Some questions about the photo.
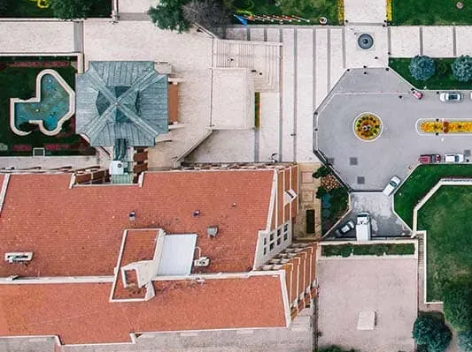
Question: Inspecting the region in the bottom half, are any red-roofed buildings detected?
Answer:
Yes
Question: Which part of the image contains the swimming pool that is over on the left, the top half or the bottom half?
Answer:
top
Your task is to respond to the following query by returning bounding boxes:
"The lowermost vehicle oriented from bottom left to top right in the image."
[334,219,355,238]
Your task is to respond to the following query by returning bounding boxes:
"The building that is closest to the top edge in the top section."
[75,60,186,178]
